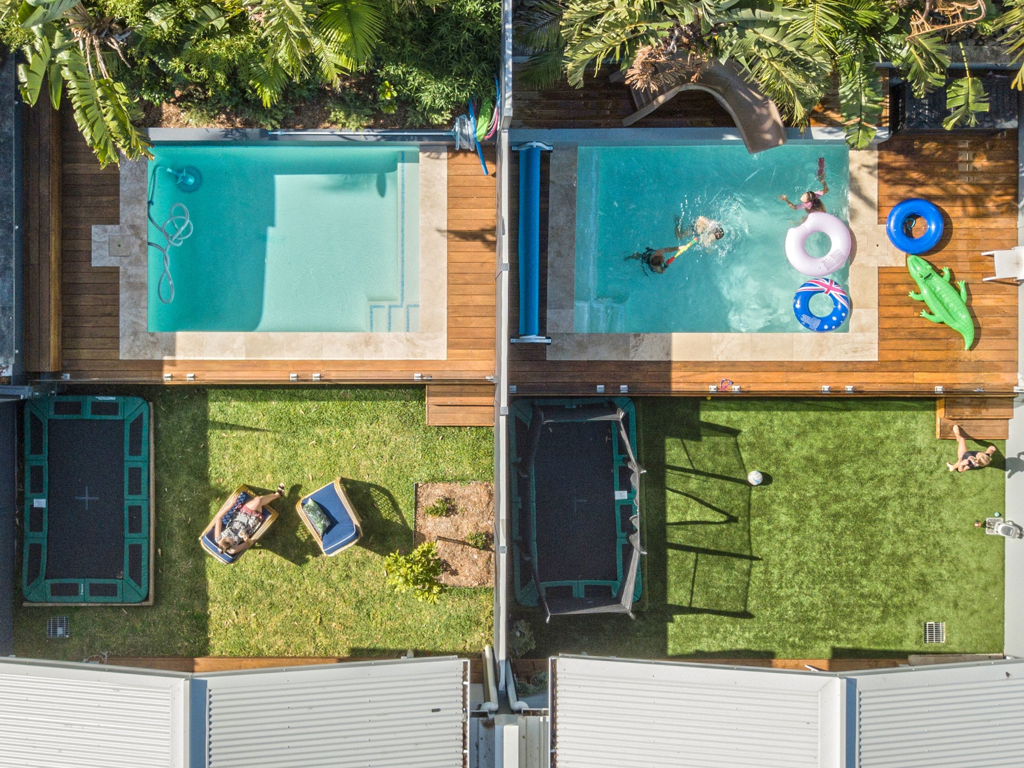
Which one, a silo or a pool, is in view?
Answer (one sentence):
The one in the frame is a pool.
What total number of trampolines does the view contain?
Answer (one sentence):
Altogether the scene contains 2 trampolines.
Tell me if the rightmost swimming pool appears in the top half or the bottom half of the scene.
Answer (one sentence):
It is in the top half that the rightmost swimming pool appears.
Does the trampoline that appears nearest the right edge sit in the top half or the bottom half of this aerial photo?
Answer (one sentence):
The bottom half of the photo is where the trampoline that appears nearest the right edge is.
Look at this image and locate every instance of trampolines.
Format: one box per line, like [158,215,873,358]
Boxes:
[21,396,159,609]
[513,397,649,624]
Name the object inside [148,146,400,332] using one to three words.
swimming pool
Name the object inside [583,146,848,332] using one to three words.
swimming pool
